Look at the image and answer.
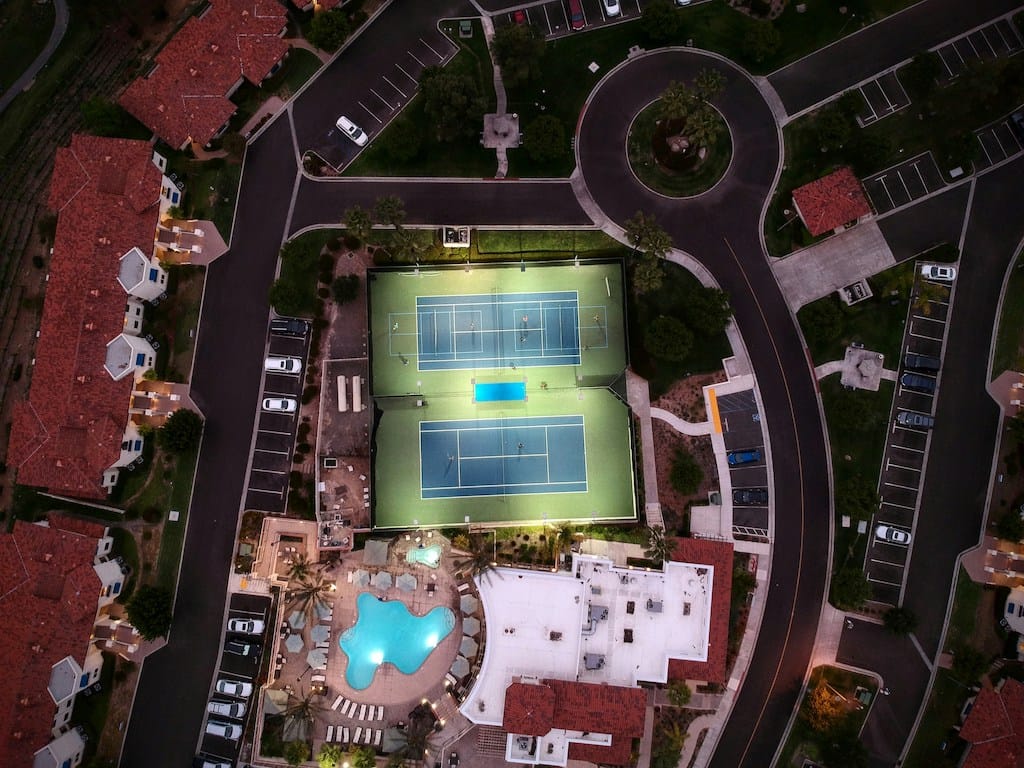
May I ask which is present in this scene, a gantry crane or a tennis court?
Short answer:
tennis court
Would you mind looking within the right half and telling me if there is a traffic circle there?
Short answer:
Yes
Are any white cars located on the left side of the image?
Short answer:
Yes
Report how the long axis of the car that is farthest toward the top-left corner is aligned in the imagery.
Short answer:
on a diagonal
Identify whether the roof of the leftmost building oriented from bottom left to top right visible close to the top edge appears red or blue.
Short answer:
red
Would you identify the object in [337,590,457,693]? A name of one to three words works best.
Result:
swimming pool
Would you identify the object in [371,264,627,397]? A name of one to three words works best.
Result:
tennis court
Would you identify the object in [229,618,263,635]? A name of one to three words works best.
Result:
car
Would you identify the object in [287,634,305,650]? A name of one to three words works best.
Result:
umbrella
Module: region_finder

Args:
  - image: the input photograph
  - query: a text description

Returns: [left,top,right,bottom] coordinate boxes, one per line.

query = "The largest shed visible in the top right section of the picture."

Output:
[788,166,872,238]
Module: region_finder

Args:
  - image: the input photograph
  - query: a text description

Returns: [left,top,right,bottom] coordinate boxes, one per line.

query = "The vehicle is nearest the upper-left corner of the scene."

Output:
[335,115,368,147]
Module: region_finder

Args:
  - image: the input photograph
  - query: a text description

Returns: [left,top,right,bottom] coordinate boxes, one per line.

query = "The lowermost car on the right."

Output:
[874,526,909,543]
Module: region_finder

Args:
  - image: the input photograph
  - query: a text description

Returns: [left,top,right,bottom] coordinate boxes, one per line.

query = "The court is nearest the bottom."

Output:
[373,387,636,527]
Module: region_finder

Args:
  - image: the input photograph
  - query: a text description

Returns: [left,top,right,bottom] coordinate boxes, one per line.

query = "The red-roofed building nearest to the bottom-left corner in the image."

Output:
[0,511,124,768]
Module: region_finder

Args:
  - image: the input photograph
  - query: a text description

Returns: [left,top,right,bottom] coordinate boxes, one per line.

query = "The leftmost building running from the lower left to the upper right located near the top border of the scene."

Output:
[120,0,314,155]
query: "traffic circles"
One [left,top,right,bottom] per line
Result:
[580,47,781,248]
